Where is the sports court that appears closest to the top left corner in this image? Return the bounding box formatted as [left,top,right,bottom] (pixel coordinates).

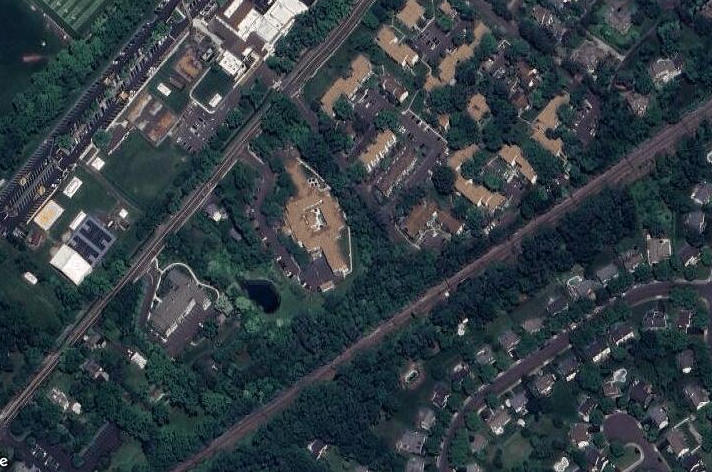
[34,199,64,230]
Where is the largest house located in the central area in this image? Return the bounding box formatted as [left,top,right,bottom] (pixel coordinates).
[286,158,350,292]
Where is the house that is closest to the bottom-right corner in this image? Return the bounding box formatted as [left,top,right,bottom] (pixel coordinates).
[680,454,705,472]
